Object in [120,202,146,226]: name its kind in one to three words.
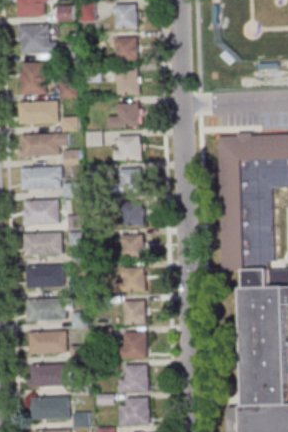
house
